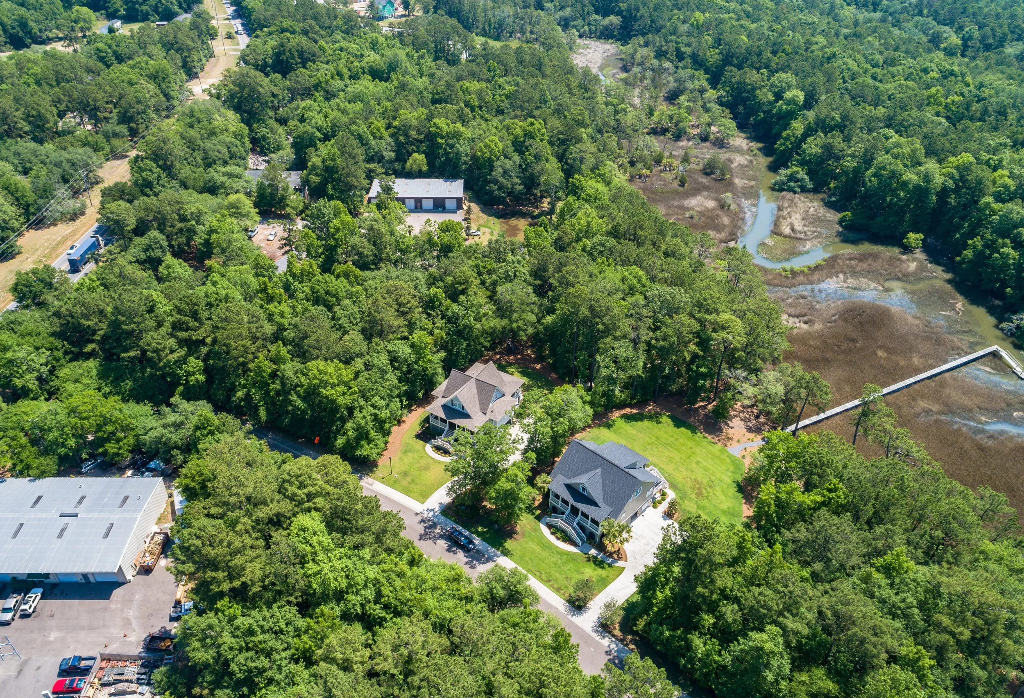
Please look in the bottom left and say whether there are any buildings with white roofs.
Yes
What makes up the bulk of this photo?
trees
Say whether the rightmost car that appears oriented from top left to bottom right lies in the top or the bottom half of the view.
bottom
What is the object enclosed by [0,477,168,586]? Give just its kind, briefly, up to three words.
building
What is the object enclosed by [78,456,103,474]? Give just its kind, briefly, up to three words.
car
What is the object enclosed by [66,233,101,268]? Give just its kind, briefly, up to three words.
trailer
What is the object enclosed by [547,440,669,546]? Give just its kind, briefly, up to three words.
house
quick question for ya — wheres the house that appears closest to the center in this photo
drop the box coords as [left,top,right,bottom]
[426,360,533,453]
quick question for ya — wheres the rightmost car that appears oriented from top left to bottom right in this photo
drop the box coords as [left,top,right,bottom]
[447,522,477,549]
